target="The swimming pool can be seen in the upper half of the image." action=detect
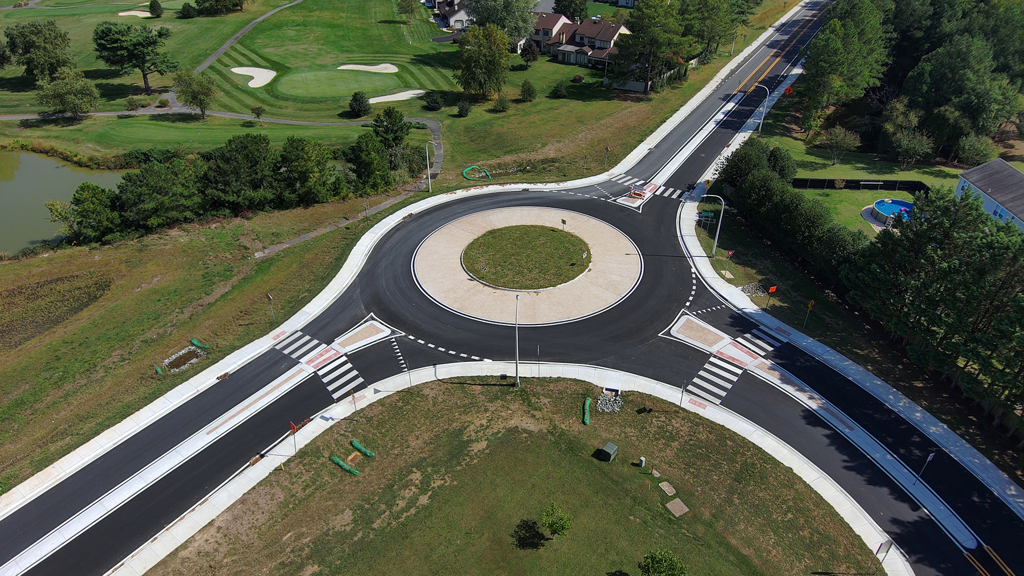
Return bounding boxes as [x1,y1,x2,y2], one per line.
[871,197,932,229]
